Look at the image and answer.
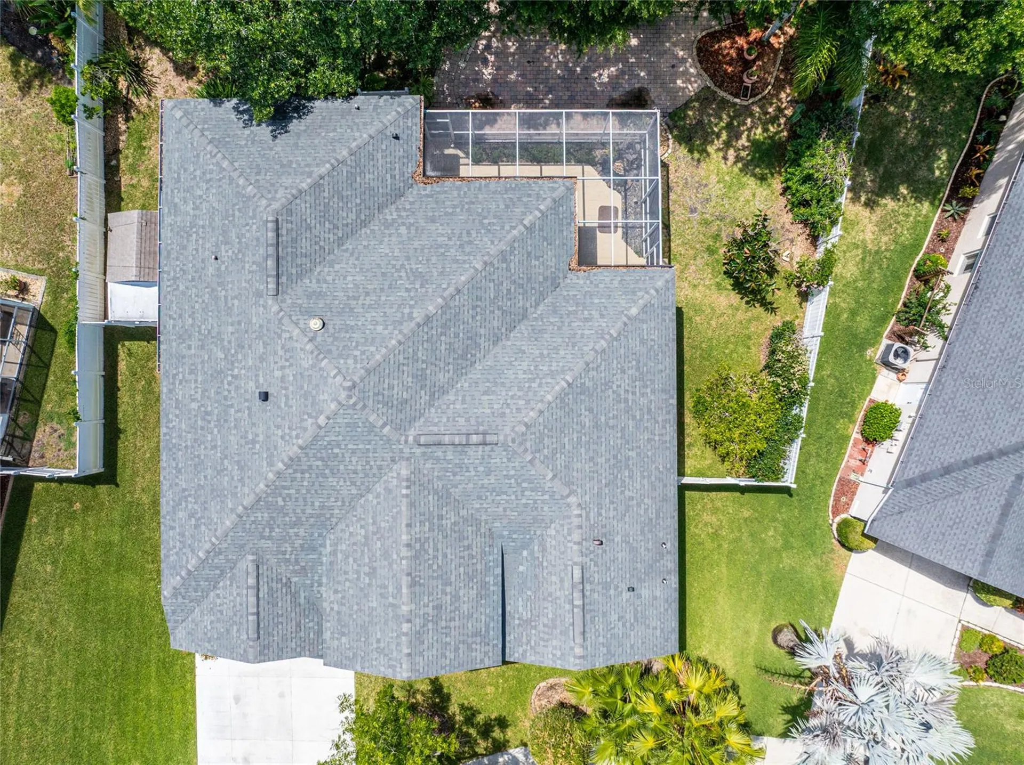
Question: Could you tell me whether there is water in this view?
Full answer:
No, there is no water in the image.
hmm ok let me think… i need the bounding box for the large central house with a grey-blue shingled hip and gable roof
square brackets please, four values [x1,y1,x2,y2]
[158,96,677,681]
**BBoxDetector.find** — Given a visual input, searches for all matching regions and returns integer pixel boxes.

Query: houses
[848,86,1024,603]
[158,96,677,681]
